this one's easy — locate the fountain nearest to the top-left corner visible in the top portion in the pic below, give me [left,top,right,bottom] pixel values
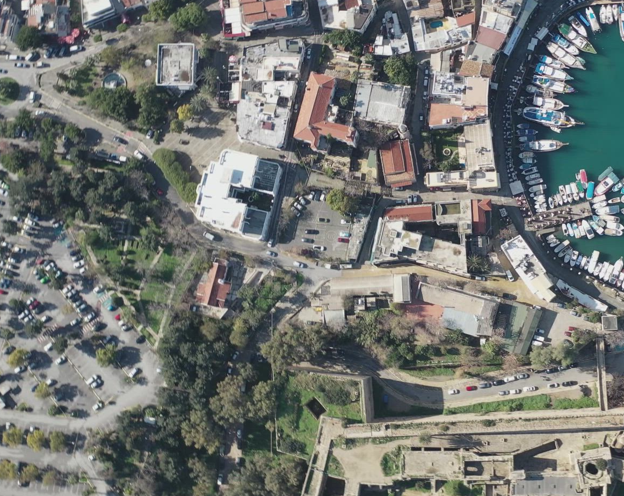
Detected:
[102,69,126,93]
